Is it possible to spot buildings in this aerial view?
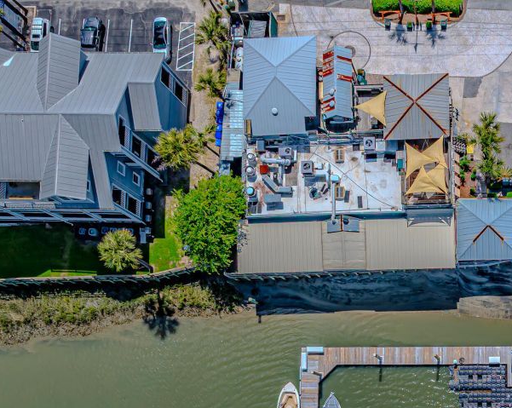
Yes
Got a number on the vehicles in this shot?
3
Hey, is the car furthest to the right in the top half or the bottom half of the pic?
top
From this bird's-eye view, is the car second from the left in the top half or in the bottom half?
top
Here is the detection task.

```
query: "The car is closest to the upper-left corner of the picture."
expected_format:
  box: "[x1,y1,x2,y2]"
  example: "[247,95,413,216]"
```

[24,11,51,52]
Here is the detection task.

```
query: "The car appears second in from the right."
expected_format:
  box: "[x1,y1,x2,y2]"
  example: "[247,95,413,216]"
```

[81,14,105,52]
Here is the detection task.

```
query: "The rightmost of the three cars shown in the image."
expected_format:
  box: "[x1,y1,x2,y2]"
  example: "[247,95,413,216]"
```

[151,16,174,62]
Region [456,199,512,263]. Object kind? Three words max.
building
